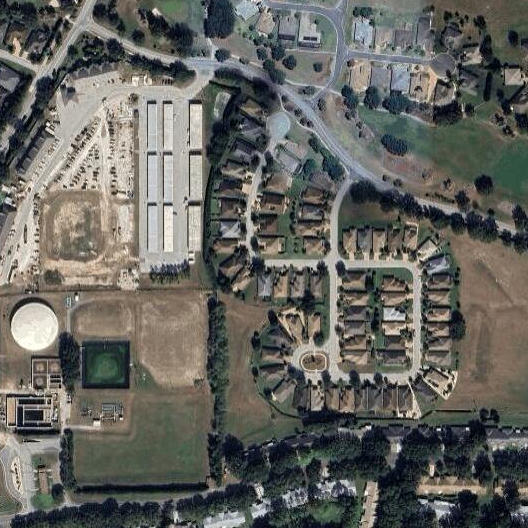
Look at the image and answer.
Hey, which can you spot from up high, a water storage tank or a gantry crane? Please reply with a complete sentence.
Of the two, only a water storage tank appears.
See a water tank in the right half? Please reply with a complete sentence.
No, there's no water tank to be seen in the right half.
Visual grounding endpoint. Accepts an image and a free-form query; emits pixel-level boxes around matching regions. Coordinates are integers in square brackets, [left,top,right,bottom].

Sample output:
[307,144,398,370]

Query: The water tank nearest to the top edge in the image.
[10,303,59,351]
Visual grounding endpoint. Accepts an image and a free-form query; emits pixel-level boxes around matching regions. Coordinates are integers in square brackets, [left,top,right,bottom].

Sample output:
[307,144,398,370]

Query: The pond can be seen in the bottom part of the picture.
[83,340,131,388]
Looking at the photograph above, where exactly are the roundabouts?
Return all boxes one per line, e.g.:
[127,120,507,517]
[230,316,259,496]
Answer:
[293,342,338,379]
